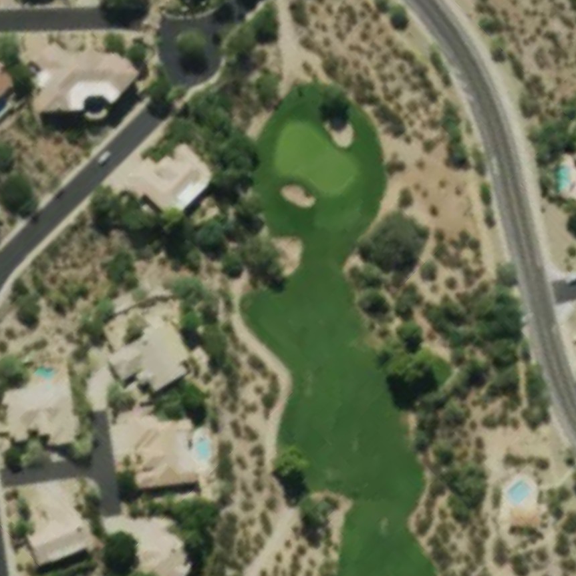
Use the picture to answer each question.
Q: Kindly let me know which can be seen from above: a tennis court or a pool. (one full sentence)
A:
Looking from above, you can make out a pool.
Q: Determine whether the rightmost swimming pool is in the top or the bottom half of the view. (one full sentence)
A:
The rightmost swimming pool sits in the top half of the picture.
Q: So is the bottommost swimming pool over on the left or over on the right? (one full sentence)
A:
The bottommost swimming pool sits on the right side.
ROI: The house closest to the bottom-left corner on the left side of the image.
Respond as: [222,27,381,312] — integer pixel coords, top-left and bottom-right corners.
[26,481,95,563]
